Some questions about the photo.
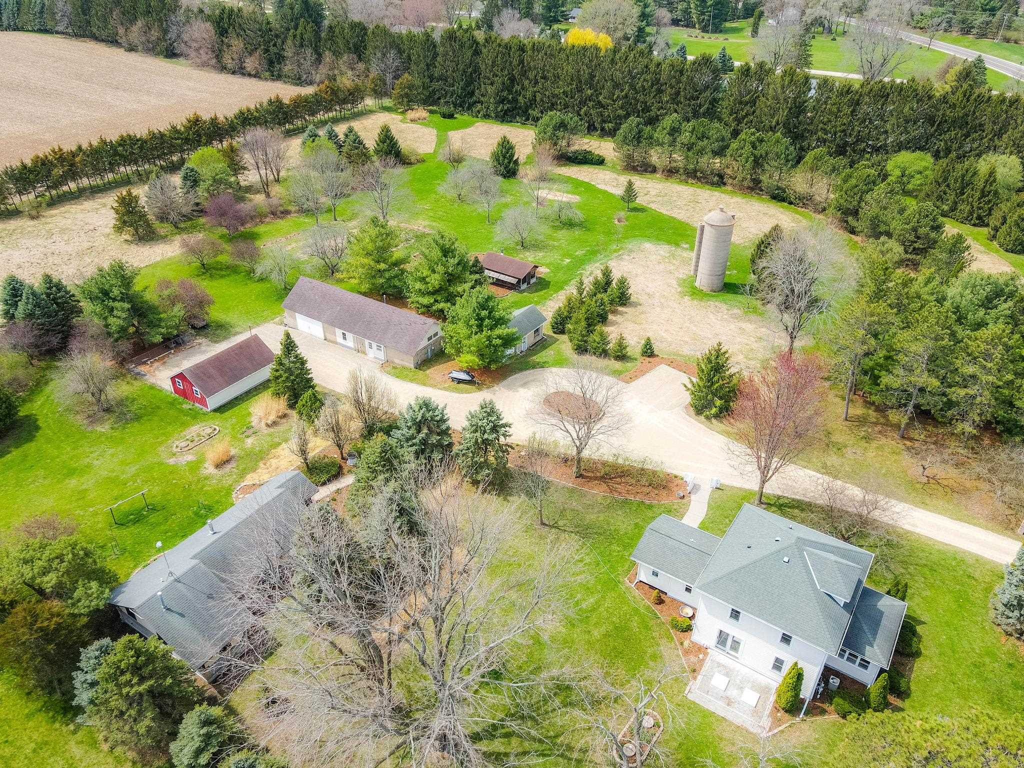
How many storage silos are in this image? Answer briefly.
one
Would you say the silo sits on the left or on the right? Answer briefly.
right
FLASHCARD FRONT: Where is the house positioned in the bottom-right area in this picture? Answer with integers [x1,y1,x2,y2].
[630,502,910,726]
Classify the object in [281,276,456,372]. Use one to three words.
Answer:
building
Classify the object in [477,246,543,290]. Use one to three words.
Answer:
shed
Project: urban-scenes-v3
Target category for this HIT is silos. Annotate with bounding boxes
[690,205,741,292]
